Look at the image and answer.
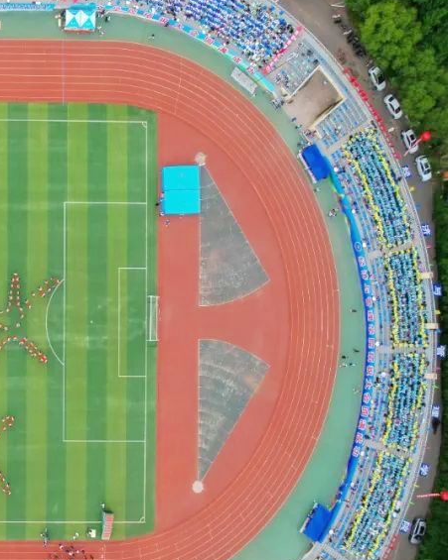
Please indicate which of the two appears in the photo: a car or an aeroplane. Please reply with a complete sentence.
There is a car in the scene.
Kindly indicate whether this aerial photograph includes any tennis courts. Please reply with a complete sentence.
No, the picture doesn't show any tennis court.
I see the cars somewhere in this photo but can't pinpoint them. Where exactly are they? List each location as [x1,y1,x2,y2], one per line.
[412,154,431,181]
[380,92,403,119]
[399,127,419,154]
[366,65,387,92]
[407,517,427,545]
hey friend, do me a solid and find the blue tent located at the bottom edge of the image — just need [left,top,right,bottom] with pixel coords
[297,501,332,540]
